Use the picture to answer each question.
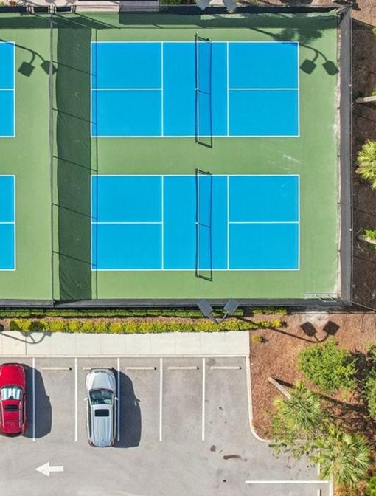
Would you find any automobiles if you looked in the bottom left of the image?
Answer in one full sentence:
Yes, there is an automobile in the bottom left of the image.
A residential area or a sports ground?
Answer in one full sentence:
This image shows a sports ground.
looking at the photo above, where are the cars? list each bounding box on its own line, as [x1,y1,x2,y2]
[83,367,121,446]
[0,361,30,436]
